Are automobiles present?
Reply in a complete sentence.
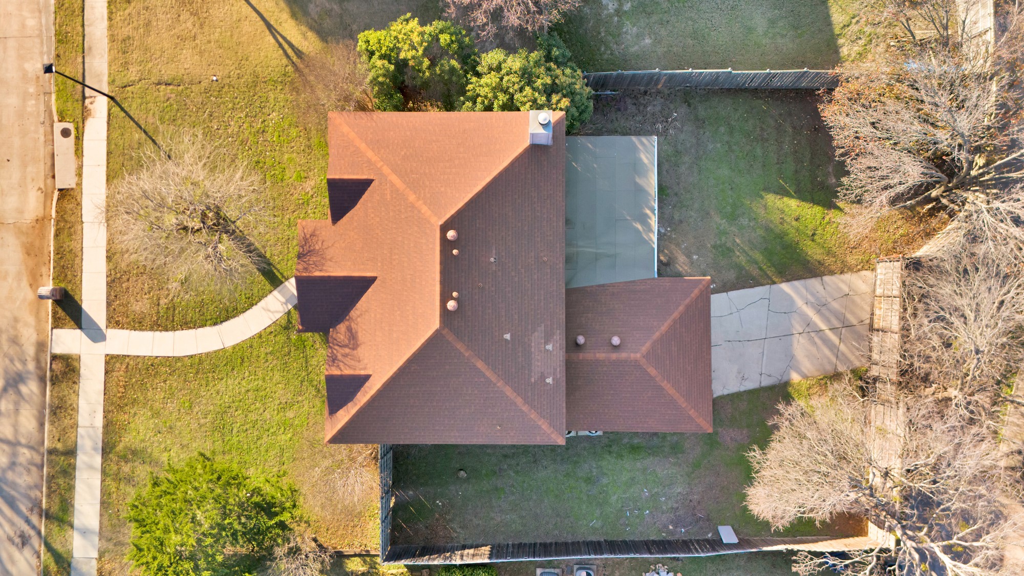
No, I can see no automobile in this picture.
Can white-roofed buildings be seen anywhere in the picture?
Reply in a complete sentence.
No, the photo shows no white-roofed building.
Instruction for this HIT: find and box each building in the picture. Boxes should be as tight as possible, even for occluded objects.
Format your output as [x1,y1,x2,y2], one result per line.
[289,108,714,447]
